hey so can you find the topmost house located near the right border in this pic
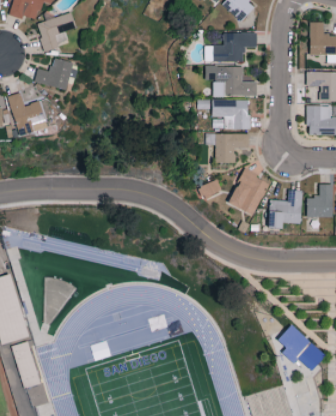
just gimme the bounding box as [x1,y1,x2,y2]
[310,22,336,64]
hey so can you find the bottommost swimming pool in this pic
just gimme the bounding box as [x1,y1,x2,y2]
[187,37,204,64]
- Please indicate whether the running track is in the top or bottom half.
bottom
